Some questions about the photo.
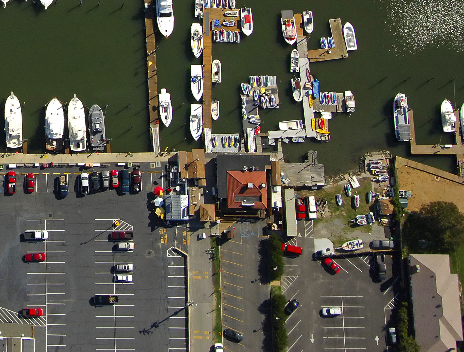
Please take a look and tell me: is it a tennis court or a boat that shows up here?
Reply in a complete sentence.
There is a boat in the scene.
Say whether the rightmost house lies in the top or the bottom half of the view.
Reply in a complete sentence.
The rightmost house is in the bottom half of the image.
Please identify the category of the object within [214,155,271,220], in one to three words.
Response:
building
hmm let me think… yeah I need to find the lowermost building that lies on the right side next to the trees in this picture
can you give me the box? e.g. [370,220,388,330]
[406,254,463,352]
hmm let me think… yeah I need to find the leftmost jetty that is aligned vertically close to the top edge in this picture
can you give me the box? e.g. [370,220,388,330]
[144,0,161,128]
